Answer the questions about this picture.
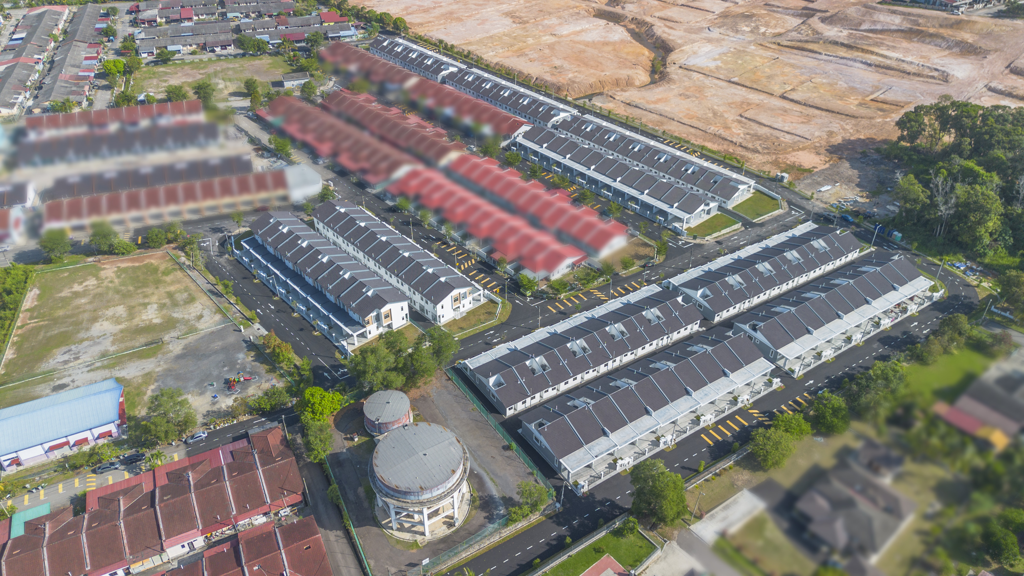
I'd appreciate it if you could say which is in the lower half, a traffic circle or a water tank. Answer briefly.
water tank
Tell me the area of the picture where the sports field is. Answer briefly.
left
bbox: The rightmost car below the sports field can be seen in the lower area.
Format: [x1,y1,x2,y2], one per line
[185,432,207,445]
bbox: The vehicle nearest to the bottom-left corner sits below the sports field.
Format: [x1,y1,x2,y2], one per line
[95,462,119,475]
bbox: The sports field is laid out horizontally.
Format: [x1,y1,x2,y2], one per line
[0,251,233,386]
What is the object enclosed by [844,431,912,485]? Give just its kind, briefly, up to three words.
house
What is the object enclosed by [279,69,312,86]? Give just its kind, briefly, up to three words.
building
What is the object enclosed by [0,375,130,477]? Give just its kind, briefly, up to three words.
building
